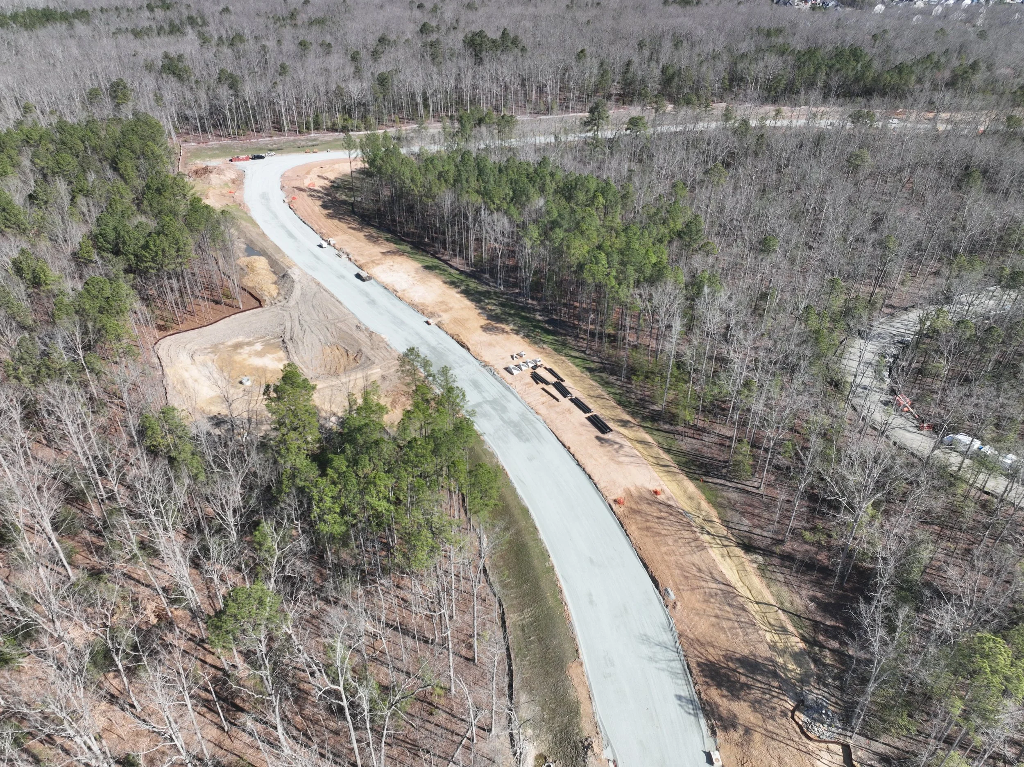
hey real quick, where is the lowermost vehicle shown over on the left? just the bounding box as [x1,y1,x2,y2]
[355,265,371,278]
